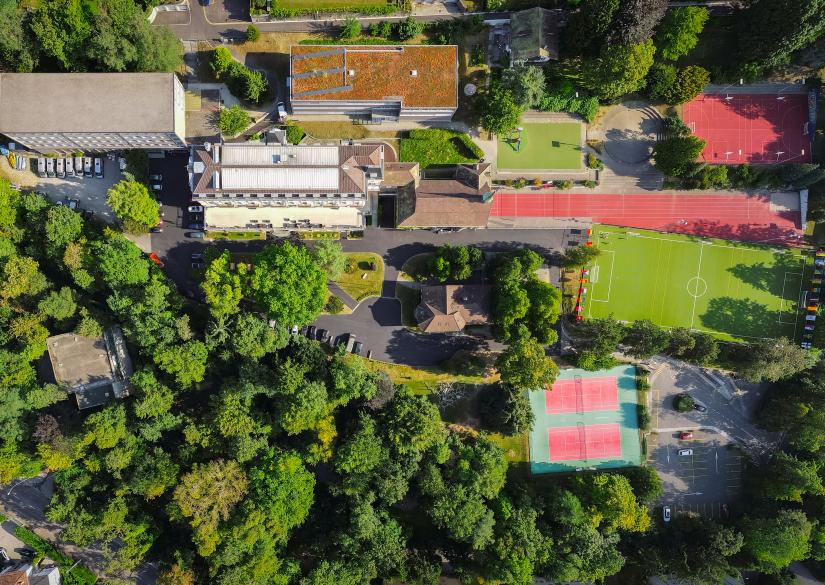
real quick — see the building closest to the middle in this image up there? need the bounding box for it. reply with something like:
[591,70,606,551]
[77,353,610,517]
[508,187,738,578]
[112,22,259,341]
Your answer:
[414,284,491,332]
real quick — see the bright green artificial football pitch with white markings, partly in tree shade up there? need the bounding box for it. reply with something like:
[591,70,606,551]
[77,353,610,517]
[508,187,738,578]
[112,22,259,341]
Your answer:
[579,222,812,347]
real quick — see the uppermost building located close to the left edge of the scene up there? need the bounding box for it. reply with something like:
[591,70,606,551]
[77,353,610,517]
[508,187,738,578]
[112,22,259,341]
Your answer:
[0,72,189,148]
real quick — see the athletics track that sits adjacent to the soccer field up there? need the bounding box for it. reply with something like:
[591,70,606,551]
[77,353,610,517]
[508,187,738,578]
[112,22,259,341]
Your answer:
[488,192,803,248]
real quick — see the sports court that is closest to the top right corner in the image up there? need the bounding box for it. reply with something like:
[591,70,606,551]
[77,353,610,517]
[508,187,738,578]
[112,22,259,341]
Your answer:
[684,93,812,165]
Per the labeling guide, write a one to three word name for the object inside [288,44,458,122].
building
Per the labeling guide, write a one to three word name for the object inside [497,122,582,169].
sports court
